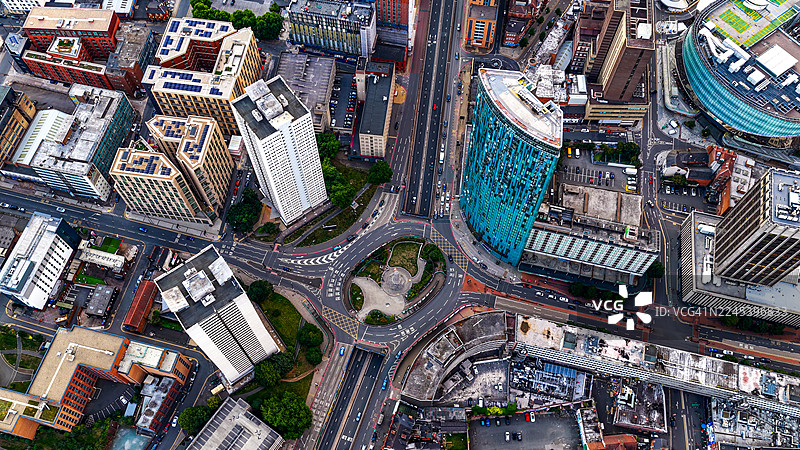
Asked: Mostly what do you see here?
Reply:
buildings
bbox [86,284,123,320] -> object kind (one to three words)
building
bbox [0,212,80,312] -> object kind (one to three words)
building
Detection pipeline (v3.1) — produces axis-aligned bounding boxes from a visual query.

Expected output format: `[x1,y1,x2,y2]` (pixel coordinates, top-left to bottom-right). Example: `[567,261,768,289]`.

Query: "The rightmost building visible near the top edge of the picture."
[677,0,800,144]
